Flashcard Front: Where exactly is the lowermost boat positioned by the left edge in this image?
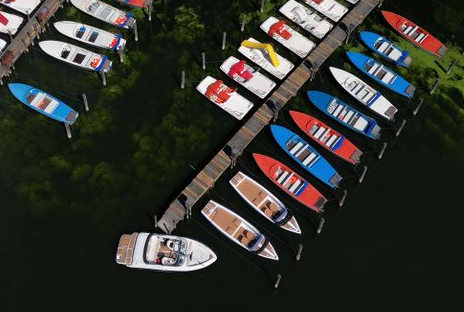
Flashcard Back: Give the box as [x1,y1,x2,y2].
[8,82,84,128]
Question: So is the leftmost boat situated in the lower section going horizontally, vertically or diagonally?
horizontally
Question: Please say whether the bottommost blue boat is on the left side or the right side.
right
